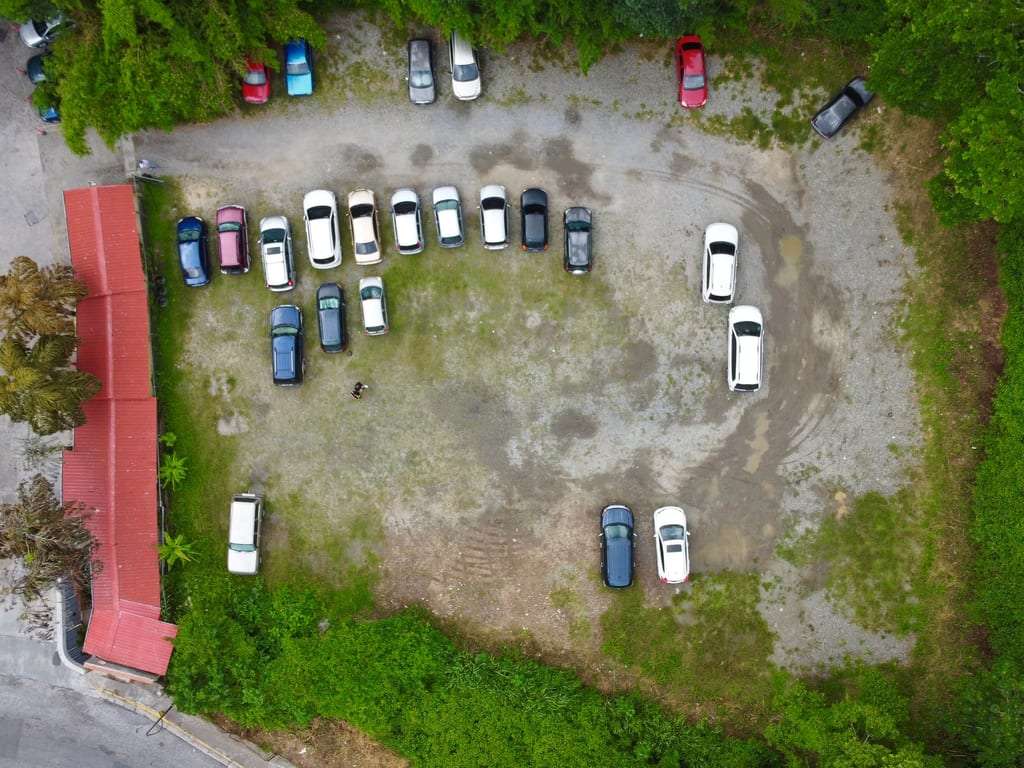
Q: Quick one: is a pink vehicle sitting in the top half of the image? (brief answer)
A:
Yes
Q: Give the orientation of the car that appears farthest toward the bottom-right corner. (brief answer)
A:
vertically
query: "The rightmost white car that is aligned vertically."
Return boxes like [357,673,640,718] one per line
[702,222,740,304]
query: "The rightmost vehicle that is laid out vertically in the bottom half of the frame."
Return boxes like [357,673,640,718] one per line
[654,504,690,584]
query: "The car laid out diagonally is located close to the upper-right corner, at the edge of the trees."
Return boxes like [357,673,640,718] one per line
[810,75,871,140]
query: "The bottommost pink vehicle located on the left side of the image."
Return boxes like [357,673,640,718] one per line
[215,205,251,276]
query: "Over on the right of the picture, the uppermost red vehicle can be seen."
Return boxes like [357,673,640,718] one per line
[674,34,710,110]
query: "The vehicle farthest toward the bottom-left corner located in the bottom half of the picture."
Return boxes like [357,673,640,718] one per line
[227,495,262,575]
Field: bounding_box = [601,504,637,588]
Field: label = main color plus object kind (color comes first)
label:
blue car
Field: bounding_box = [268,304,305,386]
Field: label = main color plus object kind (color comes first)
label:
blue car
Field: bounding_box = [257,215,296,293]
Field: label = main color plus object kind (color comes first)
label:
white car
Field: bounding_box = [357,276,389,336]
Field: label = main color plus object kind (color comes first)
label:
white car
